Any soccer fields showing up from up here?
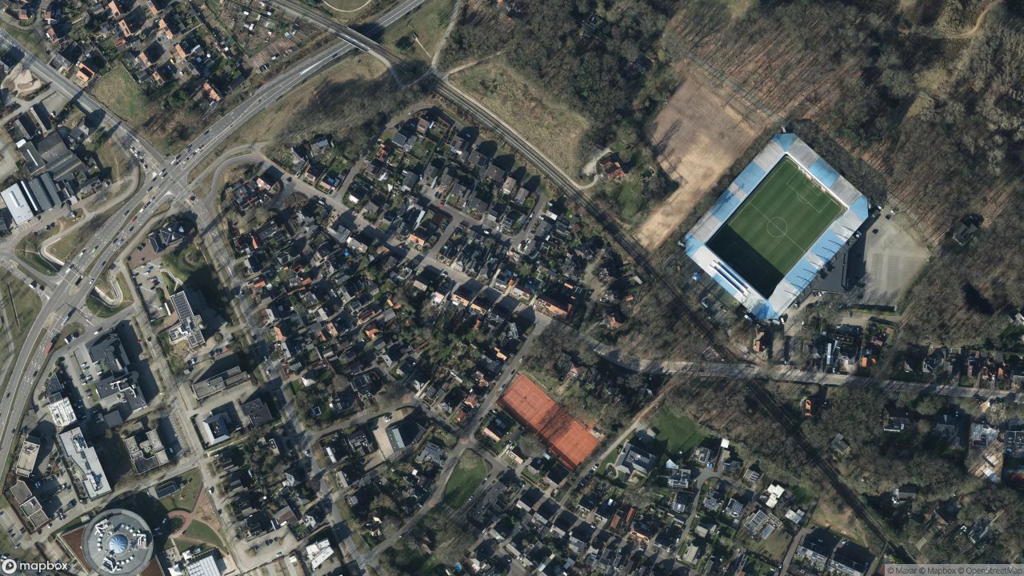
Yes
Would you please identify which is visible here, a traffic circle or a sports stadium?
sports stadium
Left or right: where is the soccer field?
right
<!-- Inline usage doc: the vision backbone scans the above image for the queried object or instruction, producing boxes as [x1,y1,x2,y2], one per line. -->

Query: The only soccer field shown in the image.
[708,154,847,298]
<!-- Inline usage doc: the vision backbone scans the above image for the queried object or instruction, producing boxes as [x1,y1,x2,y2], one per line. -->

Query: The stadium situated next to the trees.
[685,134,868,319]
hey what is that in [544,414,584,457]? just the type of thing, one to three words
tennis court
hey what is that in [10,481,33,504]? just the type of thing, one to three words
building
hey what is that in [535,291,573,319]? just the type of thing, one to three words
house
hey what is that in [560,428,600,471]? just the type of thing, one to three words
tennis court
